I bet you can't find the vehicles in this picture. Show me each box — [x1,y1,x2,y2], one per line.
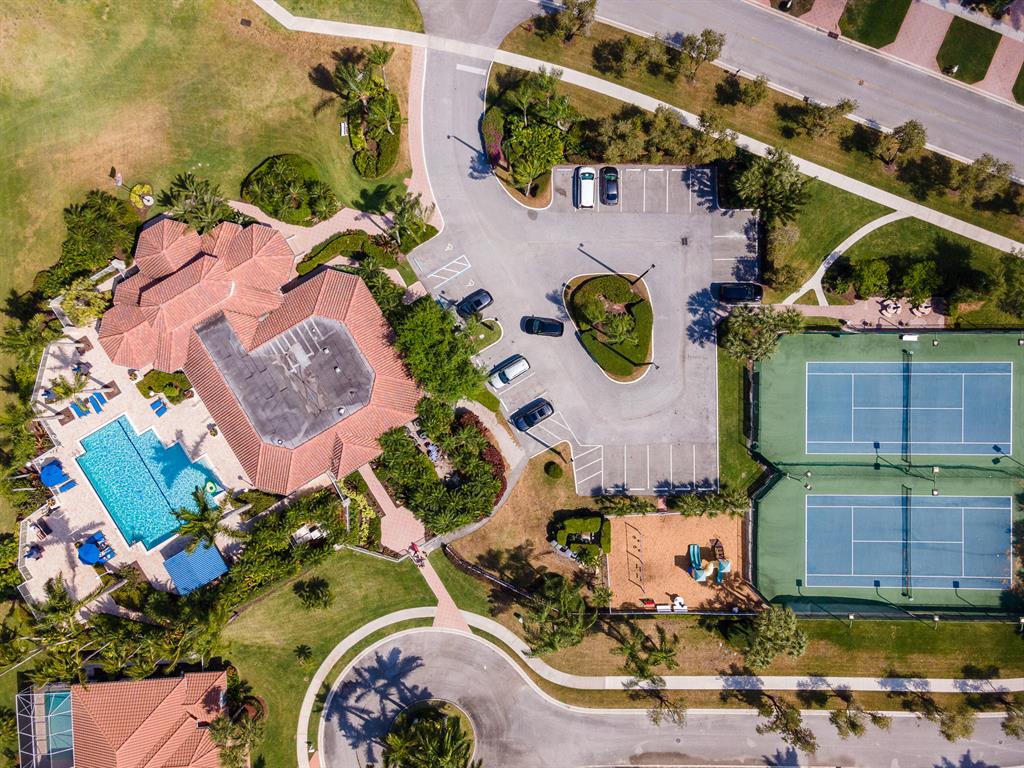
[575,167,595,210]
[455,288,496,319]
[712,282,760,302]
[487,356,530,389]
[599,166,619,207]
[521,316,565,337]
[511,397,554,430]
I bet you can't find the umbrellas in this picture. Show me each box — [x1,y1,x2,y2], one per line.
[42,461,67,486]
[78,540,103,565]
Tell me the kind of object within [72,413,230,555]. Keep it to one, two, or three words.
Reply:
swimming pool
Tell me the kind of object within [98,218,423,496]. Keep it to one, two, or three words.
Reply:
building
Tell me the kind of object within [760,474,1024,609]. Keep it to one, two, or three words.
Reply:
tennis court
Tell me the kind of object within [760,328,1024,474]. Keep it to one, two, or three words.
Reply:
tennis court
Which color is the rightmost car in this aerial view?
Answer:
black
